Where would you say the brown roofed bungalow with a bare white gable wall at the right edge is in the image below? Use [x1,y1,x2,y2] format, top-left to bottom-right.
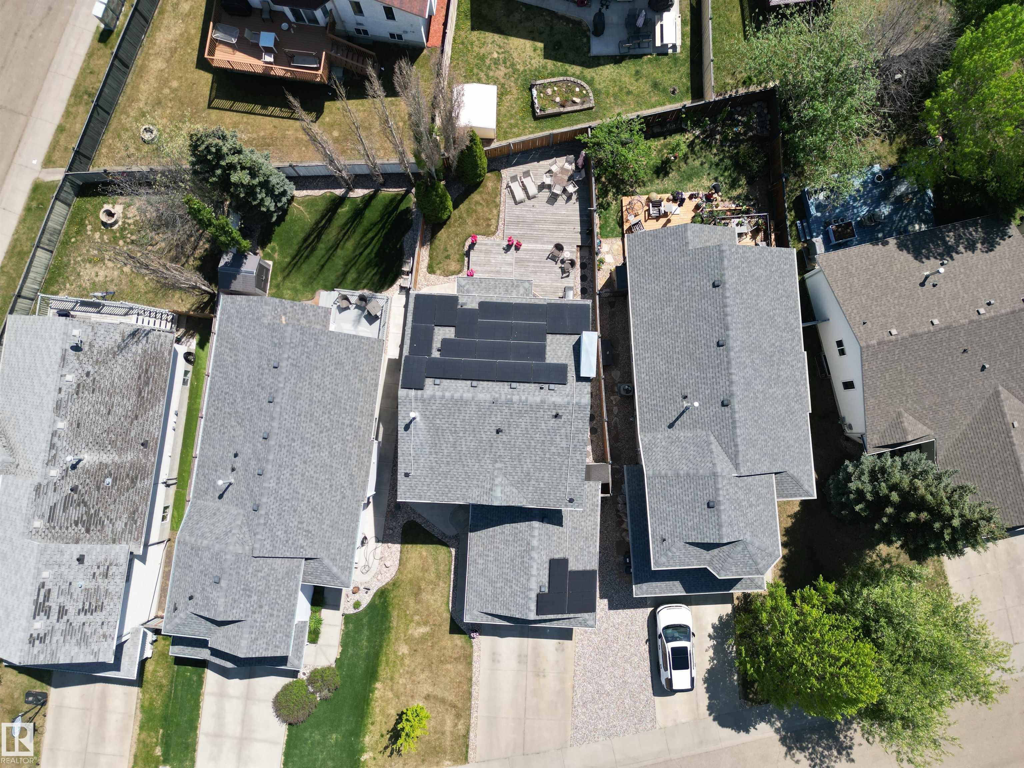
[802,210,1024,545]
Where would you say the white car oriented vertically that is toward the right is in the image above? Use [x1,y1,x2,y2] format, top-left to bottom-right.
[654,604,697,693]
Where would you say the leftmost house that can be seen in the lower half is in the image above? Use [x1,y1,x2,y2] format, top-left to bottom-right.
[0,313,192,680]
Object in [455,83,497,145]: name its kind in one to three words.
shed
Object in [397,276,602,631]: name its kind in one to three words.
house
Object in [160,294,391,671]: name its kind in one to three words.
house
